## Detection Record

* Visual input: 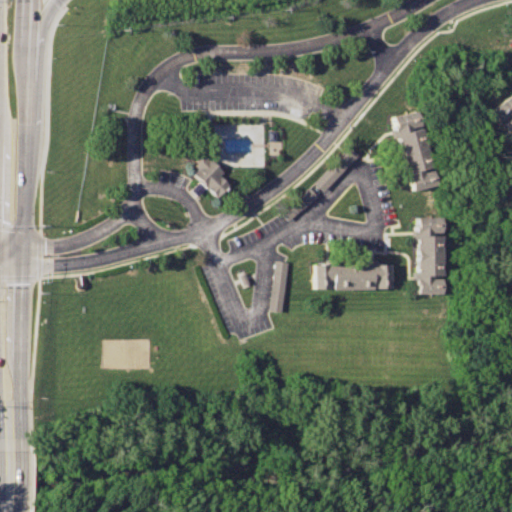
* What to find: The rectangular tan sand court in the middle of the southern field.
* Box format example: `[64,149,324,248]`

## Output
[100,339,150,370]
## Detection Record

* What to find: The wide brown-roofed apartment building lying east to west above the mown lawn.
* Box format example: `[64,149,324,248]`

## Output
[311,260,392,292]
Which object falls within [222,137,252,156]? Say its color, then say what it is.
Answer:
blue swimming pool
